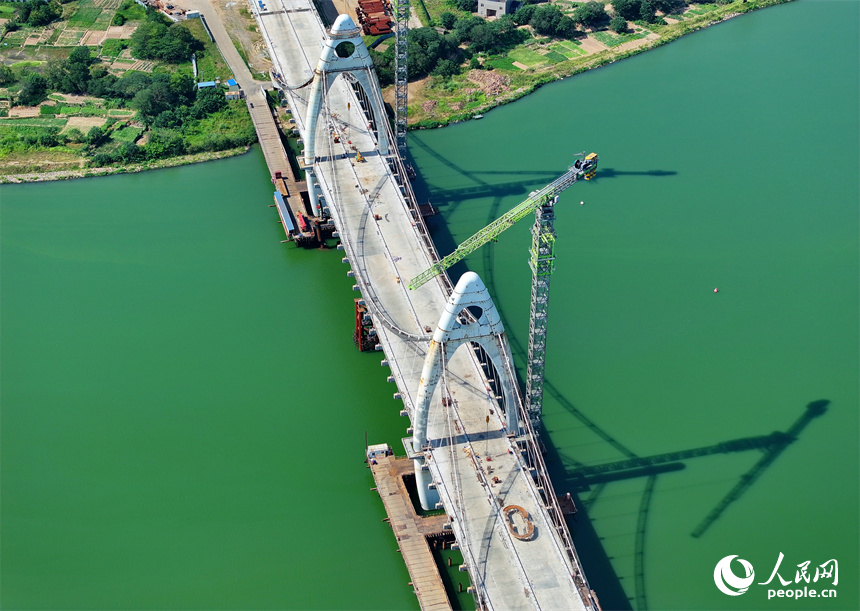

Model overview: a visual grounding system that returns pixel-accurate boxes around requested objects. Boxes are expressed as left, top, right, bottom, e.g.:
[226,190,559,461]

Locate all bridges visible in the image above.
[245,0,606,611]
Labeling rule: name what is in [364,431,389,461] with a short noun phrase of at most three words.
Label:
building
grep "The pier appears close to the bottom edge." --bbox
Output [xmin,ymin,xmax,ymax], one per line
[366,454,456,611]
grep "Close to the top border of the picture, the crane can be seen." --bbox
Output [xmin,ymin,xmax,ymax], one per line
[349,0,413,206]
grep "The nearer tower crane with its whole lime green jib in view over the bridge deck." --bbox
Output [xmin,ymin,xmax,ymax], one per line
[409,150,596,490]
